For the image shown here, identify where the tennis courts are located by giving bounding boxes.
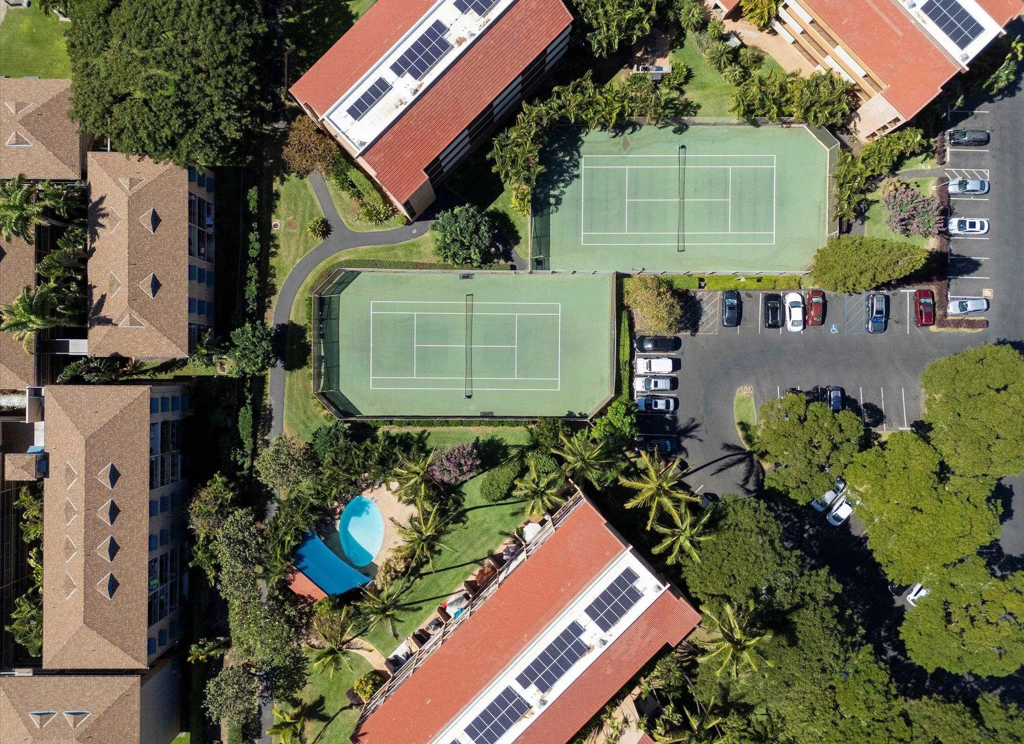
[322,273,609,416]
[533,125,827,270]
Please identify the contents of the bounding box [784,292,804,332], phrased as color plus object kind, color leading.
white car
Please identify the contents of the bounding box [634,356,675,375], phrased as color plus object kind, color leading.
white car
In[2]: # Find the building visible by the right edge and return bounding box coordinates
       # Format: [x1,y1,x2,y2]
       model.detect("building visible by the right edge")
[761,0,1024,144]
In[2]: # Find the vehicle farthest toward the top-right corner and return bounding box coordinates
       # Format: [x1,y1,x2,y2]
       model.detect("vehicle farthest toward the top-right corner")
[945,128,989,148]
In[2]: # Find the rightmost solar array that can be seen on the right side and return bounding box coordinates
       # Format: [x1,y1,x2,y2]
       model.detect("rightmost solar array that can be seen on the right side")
[921,0,983,50]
